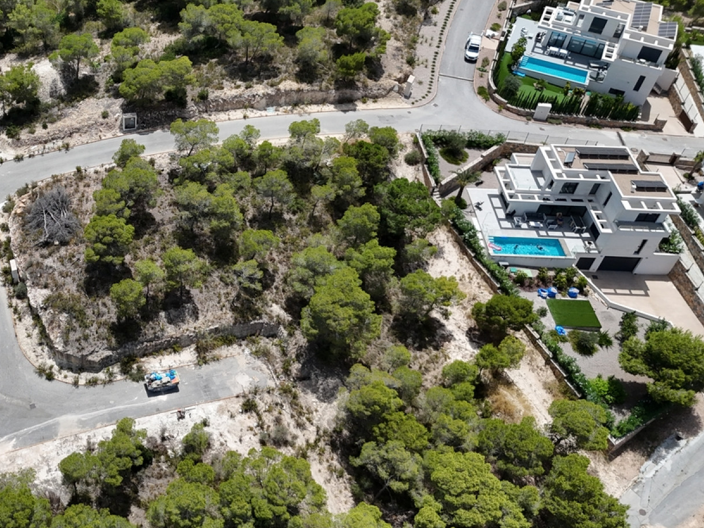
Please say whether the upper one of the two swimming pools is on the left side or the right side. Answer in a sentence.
It is on the right.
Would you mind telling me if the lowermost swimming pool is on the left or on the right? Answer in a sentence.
You can find the lowermost swimming pool on the right side of the picture.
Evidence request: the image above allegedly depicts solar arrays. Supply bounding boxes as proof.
[630,183,668,191]
[574,150,630,158]
[581,165,638,172]
[632,3,651,30]
[658,23,676,39]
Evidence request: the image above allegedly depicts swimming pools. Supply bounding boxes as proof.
[483,233,575,272]
[515,54,591,96]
